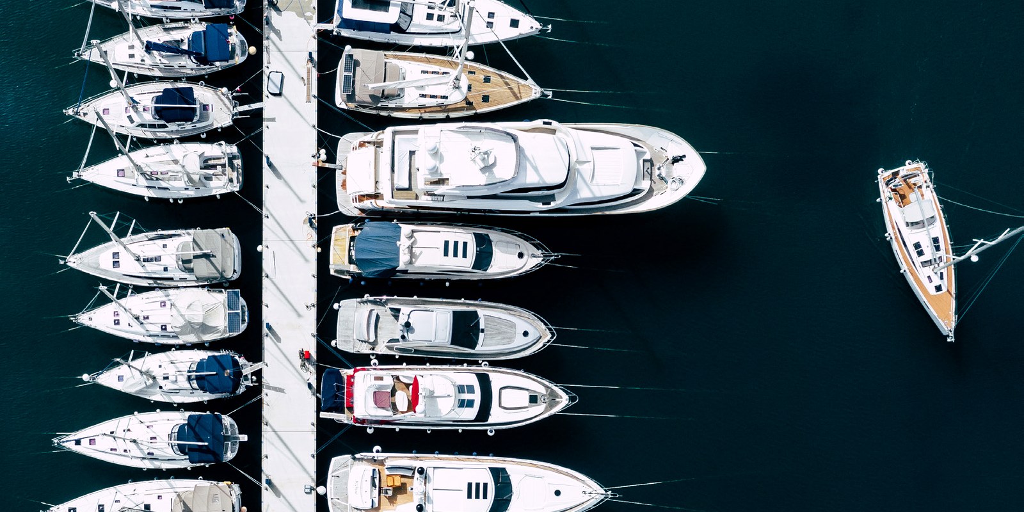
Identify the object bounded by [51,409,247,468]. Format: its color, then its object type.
white boat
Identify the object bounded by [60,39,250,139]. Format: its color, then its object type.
white boat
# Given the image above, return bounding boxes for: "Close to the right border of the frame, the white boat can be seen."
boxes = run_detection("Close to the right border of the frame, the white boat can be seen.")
[878,158,1024,342]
